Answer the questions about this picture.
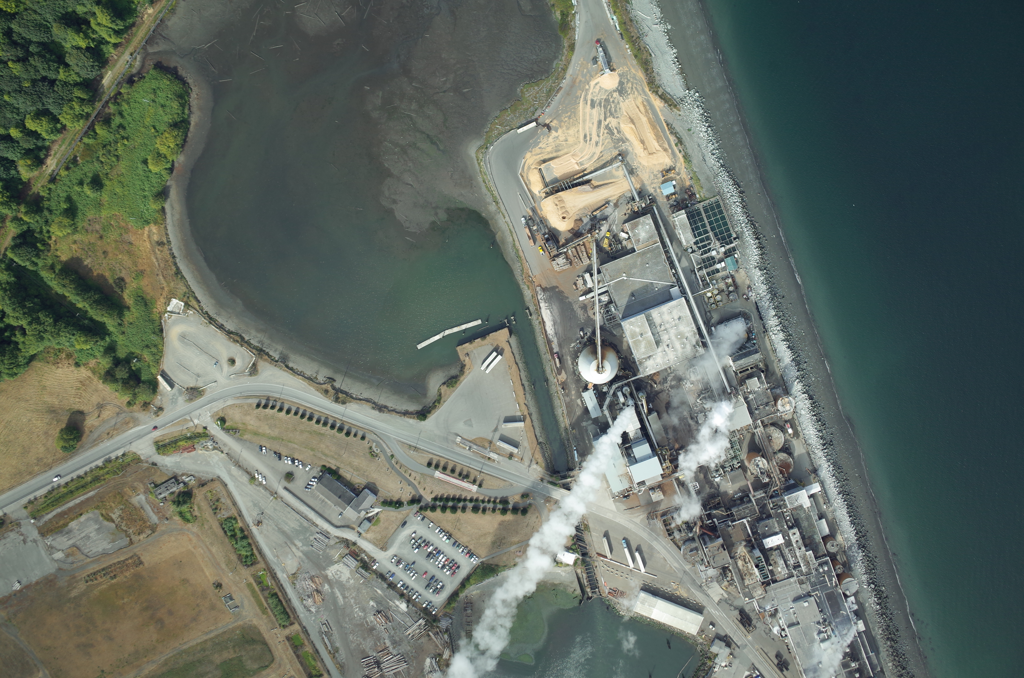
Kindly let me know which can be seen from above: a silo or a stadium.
silo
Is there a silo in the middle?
Yes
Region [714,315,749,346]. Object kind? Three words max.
cooling tower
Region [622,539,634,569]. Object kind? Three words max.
vehicle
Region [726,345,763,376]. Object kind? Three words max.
house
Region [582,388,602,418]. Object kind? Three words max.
building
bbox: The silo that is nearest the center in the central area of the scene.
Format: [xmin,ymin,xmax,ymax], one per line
[574,341,623,388]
